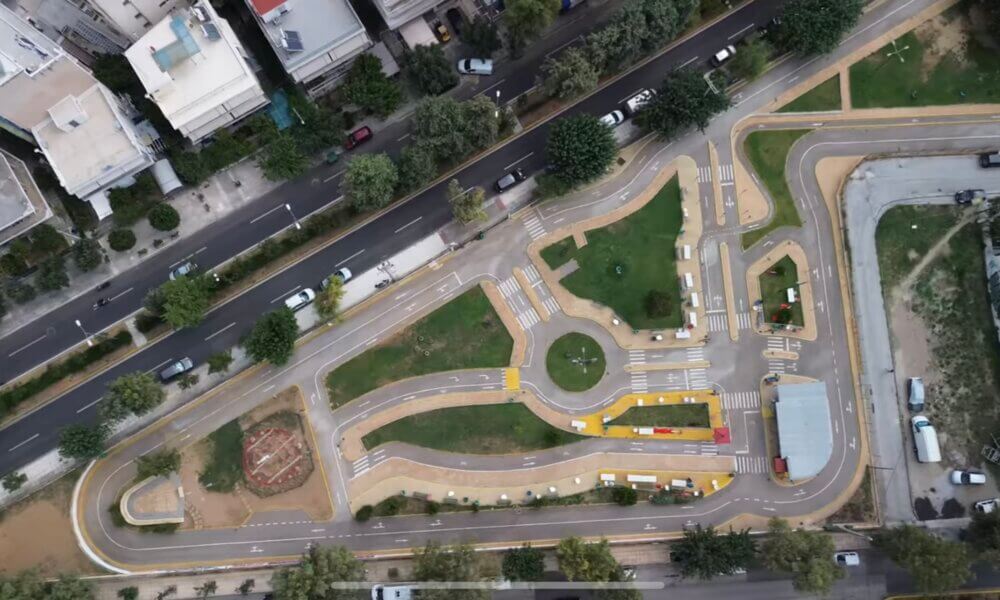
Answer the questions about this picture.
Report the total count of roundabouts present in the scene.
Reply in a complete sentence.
There is 1 roundabout in the image.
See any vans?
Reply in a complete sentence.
Yes, the photo shows a van.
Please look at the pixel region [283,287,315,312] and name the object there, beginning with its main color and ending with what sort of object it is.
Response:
white car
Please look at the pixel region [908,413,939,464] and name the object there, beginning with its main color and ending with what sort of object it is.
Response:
white van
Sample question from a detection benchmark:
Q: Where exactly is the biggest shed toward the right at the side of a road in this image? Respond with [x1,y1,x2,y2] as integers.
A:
[770,381,832,480]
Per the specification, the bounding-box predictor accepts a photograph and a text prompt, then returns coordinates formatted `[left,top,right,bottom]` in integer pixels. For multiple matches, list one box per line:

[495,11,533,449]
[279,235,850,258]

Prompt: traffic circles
[539,324,613,398]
